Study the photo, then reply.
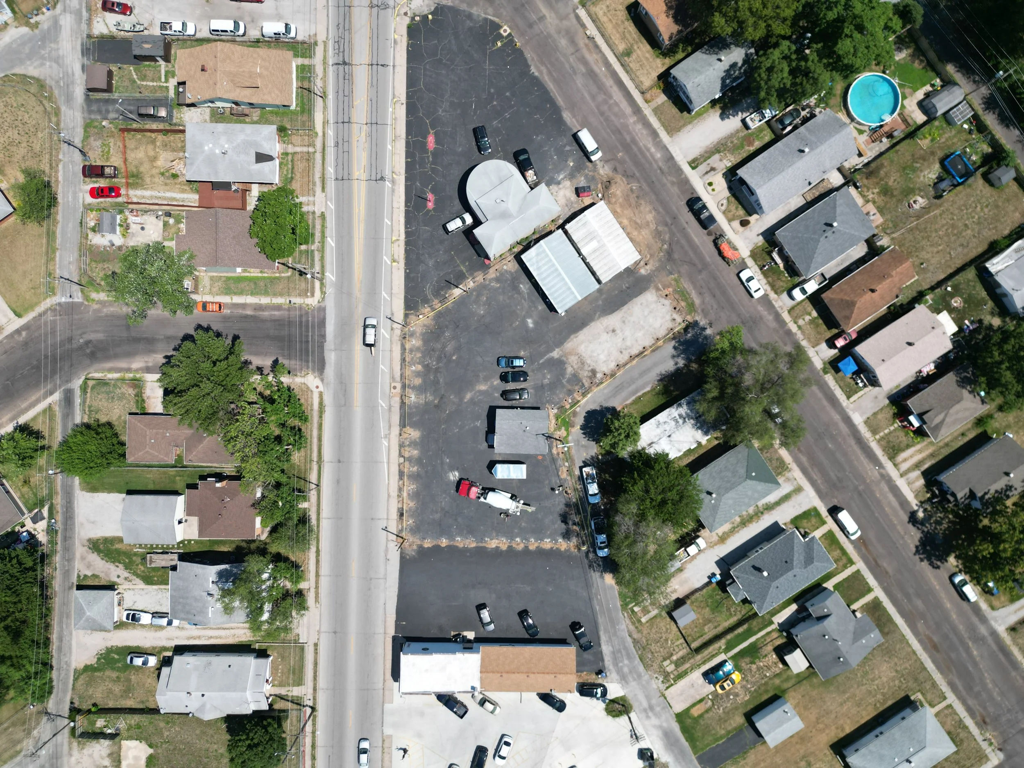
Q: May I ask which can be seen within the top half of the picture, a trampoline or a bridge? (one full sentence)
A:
Visible within the top half of the picture is a trampoline.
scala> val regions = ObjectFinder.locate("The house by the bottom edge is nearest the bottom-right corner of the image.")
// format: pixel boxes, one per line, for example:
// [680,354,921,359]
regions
[842,700,957,768]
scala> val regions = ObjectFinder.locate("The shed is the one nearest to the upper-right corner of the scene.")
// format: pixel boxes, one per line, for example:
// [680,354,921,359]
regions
[921,83,965,121]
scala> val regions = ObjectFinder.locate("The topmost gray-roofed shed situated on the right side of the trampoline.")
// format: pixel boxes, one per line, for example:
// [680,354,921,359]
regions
[982,164,1019,193]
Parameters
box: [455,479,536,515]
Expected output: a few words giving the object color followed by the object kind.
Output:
white truck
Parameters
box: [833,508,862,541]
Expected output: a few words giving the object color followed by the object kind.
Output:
white vehicle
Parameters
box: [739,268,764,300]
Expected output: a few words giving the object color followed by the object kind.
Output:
white car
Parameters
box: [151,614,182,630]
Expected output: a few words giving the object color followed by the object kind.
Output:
white car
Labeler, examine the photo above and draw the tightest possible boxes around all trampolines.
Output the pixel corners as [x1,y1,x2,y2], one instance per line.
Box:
[942,151,975,183]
